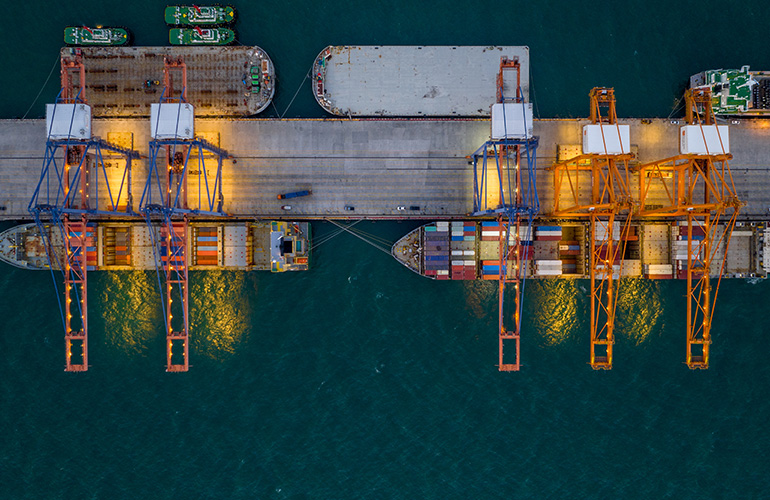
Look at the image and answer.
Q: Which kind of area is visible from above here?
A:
port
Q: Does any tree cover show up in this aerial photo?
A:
No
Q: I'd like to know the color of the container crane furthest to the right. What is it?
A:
orange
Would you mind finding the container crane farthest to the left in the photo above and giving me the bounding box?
[26,60,140,372]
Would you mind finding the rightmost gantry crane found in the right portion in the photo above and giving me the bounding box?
[632,80,750,373]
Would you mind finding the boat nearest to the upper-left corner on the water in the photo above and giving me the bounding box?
[62,23,132,47]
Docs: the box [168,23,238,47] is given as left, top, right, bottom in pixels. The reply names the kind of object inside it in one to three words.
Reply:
boat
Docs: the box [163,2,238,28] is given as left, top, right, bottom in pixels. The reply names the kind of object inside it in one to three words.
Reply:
boat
